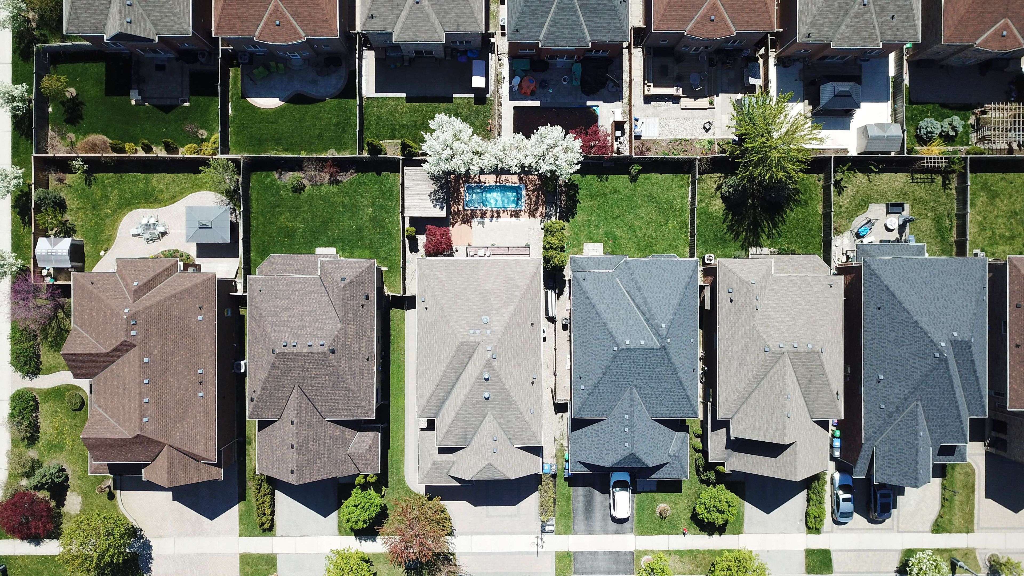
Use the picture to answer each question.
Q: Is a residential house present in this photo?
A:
Yes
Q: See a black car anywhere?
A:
Yes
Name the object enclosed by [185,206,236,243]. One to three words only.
gazebo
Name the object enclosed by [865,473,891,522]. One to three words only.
car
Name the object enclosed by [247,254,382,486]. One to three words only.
house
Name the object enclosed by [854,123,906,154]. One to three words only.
shed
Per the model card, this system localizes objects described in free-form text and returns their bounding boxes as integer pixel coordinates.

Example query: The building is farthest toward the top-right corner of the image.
[911,0,1024,67]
